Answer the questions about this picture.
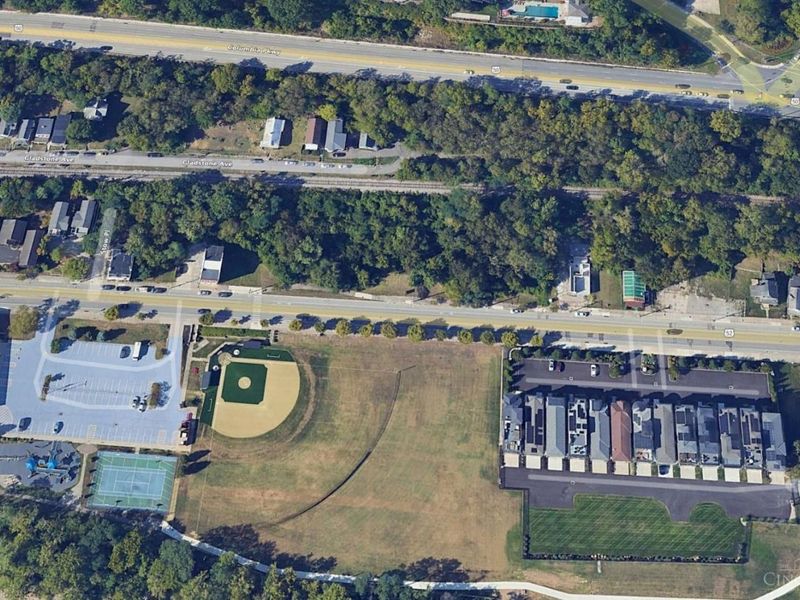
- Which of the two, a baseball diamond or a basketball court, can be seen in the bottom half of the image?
baseball diamond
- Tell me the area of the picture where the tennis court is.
bottom left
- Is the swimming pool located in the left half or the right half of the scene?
right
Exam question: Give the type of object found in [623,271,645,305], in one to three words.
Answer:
building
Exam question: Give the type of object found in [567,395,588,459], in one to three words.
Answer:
house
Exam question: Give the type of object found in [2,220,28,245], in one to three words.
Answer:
house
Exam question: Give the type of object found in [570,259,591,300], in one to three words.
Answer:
building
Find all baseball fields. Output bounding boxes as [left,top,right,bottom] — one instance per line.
[168,336,502,583]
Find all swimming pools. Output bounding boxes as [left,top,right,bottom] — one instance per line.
[500,0,590,27]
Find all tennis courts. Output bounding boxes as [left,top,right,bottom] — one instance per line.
[88,451,177,512]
